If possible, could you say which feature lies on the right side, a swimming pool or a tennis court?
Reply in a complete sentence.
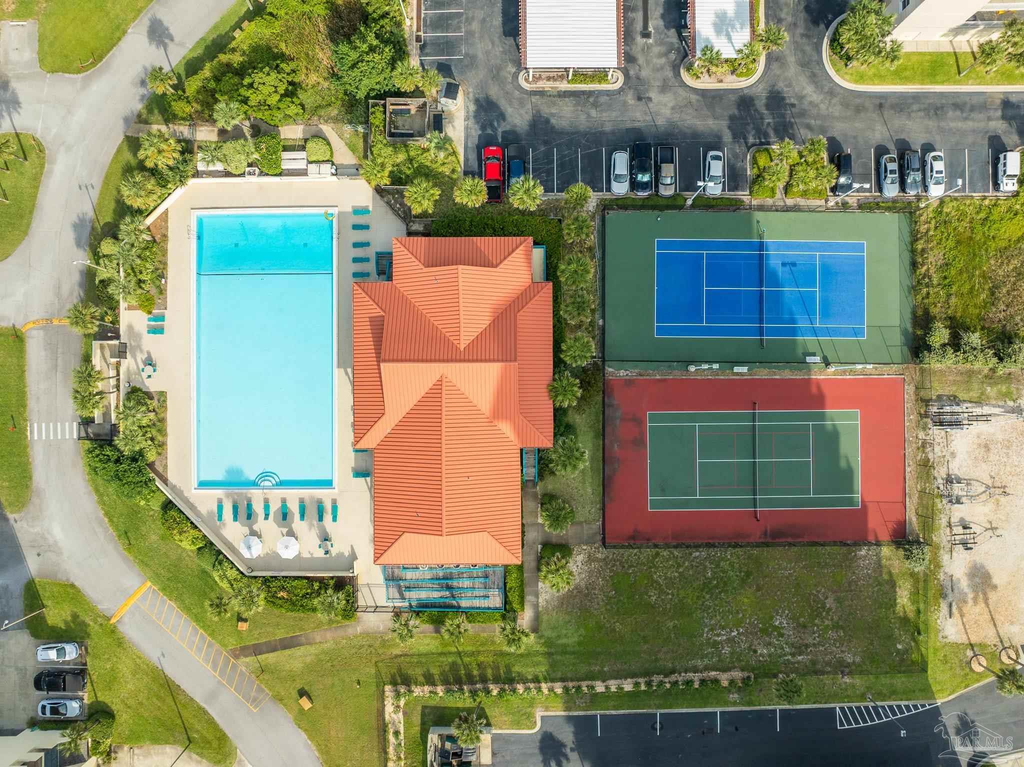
There is a tennis court on the right side.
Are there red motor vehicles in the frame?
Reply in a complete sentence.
Yes, there is a red motor vehicle in the image.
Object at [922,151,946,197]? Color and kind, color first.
white car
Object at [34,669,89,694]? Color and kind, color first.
black vehicle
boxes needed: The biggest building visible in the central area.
[353,237,553,565]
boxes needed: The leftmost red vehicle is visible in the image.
[482,147,504,202]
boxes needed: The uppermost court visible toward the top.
[607,210,914,371]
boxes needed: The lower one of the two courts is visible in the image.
[607,378,905,544]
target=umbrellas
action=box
[241,535,263,558]
[279,535,301,557]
